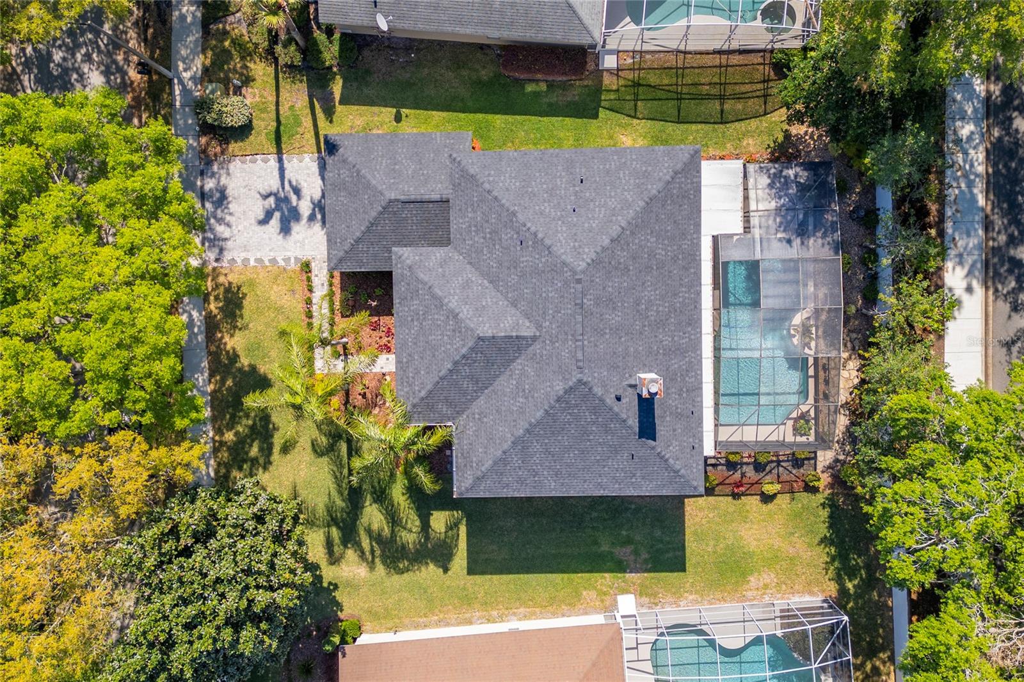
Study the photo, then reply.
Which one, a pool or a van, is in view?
pool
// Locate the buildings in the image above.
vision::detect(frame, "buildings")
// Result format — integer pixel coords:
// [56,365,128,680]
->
[317,0,603,51]
[338,614,627,682]
[323,131,706,499]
